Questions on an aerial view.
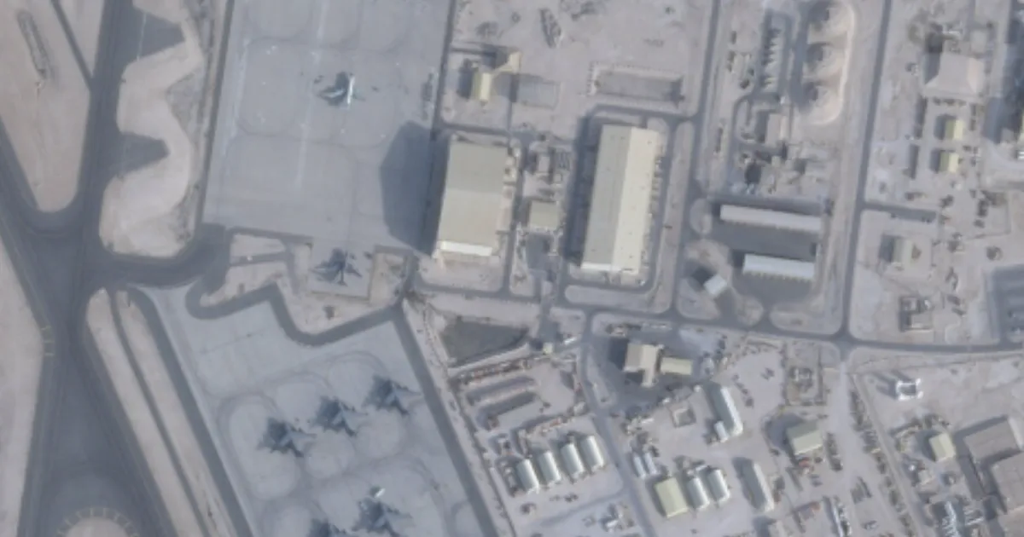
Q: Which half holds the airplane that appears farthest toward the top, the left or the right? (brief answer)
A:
left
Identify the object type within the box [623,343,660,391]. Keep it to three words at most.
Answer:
building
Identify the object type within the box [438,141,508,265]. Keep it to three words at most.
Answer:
hangar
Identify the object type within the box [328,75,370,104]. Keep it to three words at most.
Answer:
airplane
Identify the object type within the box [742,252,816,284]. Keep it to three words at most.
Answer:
shed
